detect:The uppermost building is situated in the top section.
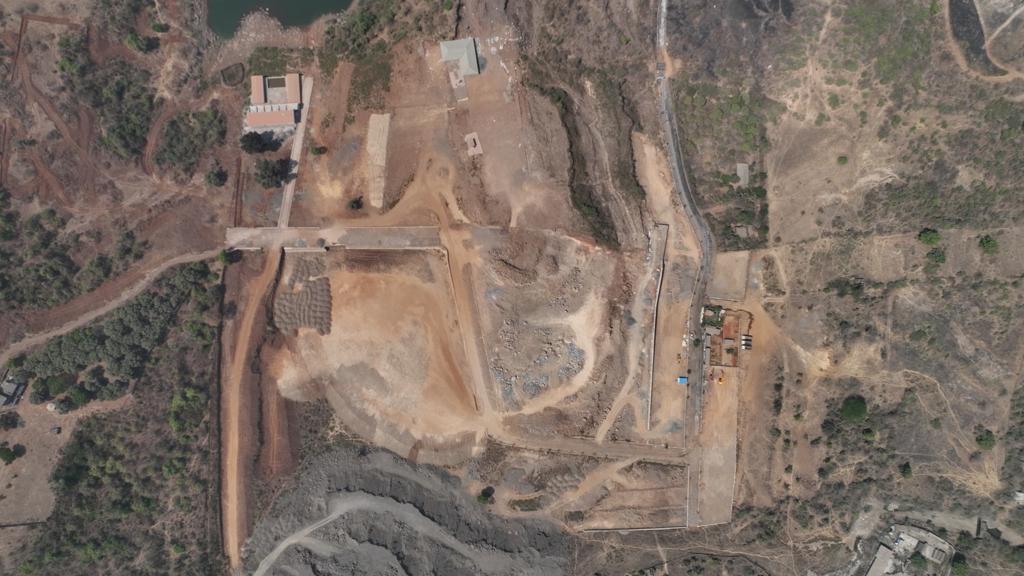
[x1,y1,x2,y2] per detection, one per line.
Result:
[440,38,479,76]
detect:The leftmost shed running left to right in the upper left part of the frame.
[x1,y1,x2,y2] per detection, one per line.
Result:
[246,109,296,128]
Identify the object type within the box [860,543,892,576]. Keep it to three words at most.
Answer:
building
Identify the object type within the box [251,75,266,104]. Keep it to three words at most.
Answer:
shed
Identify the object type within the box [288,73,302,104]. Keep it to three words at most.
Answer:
shed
